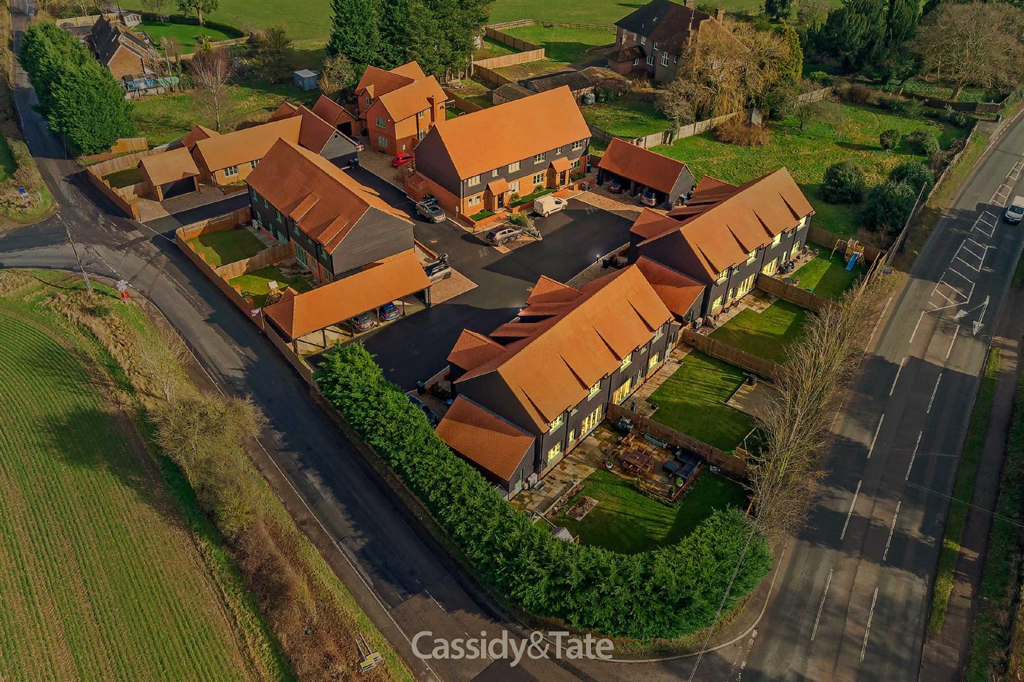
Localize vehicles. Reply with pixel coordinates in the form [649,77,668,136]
[1005,190,1024,222]
[483,226,525,250]
[423,252,460,283]
[354,139,372,157]
[606,175,631,195]
[385,151,416,169]
[532,193,570,218]
[418,197,446,225]
[638,186,662,208]
[345,312,377,338]
[372,302,403,326]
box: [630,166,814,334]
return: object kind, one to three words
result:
house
